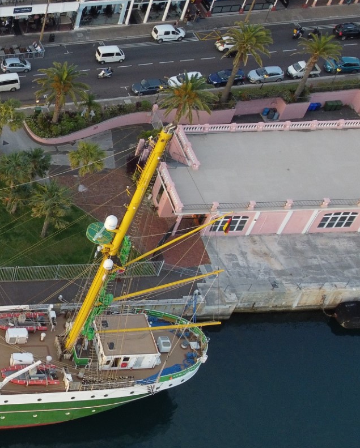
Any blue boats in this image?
No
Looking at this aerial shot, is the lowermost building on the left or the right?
right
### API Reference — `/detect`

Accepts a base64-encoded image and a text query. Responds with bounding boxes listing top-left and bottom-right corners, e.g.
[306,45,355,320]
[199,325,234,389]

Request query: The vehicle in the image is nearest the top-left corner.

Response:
[2,58,33,74]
